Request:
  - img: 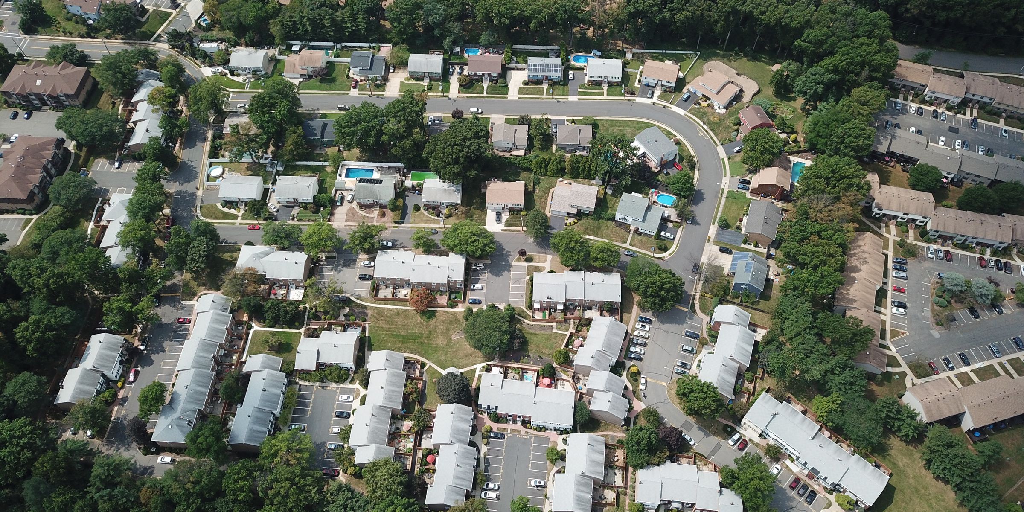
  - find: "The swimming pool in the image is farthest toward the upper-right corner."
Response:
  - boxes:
[791,161,805,184]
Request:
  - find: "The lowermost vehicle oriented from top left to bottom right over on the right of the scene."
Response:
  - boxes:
[682,431,697,447]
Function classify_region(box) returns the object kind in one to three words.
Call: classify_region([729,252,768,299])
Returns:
house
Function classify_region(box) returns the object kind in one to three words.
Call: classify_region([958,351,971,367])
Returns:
vehicle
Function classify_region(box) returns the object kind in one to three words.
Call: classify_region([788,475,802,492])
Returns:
car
